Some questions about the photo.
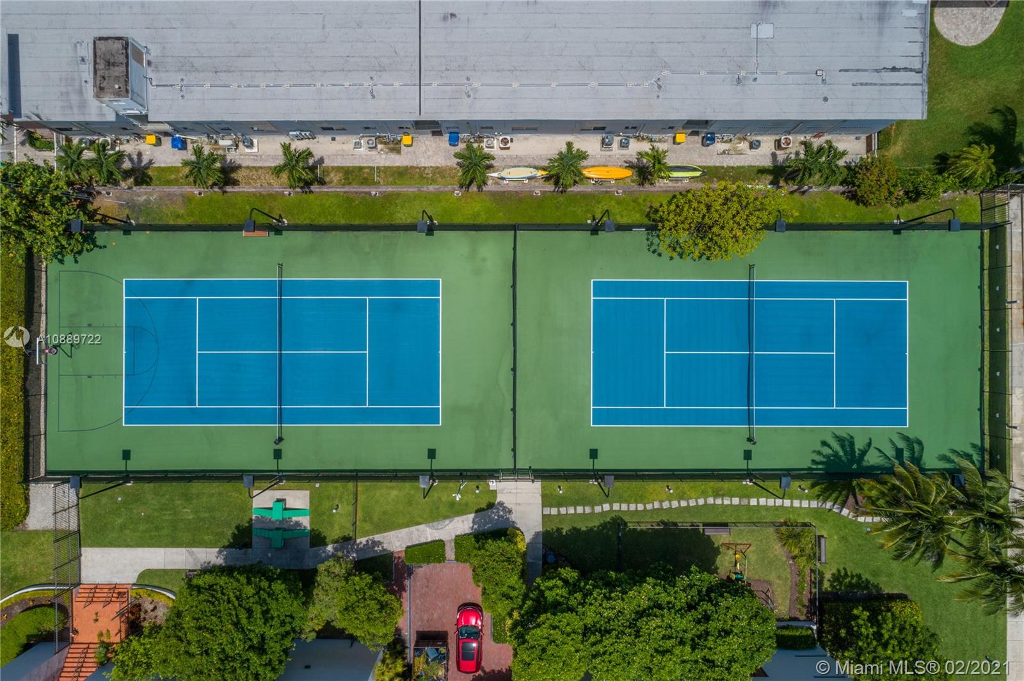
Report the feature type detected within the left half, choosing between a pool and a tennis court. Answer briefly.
tennis court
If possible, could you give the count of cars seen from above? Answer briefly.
1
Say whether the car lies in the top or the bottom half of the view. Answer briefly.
bottom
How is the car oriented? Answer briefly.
up and down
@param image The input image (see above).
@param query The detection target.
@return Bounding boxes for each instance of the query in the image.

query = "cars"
[453,603,485,672]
